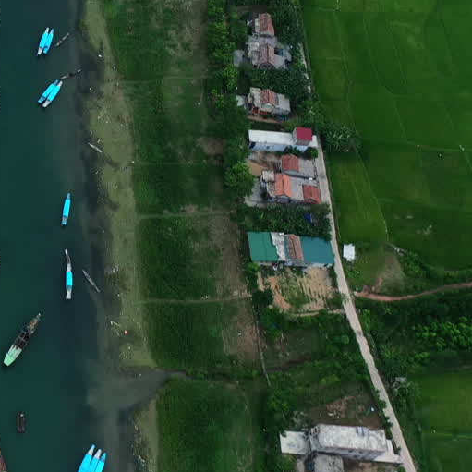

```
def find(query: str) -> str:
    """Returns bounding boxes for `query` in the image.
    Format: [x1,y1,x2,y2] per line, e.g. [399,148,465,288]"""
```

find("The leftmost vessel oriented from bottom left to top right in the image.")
[3,313,40,367]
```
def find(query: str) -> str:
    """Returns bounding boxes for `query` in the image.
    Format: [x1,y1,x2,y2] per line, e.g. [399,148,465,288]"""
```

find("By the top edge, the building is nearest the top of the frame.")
[255,10,274,36]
